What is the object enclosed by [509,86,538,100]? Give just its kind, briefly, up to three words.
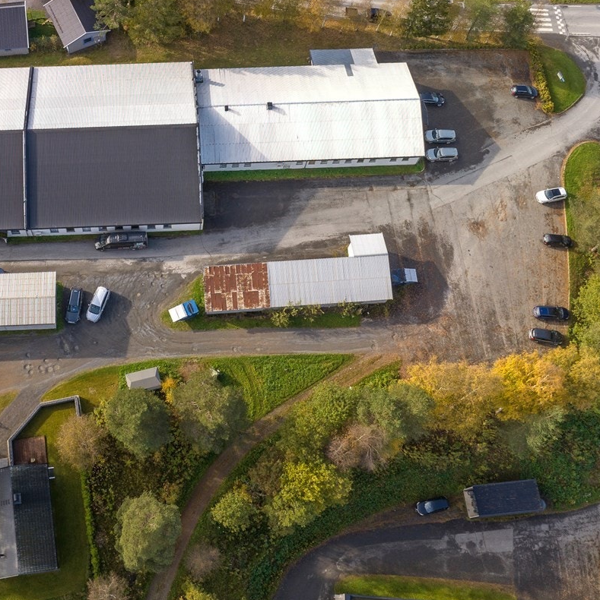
car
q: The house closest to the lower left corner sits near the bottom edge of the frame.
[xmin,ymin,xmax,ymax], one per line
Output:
[0,465,58,580]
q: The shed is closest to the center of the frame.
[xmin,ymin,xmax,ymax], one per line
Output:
[203,232,393,316]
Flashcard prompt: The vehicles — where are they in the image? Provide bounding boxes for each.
[423,130,457,145]
[168,301,200,323]
[539,233,573,251]
[419,93,448,109]
[390,269,421,288]
[509,86,538,100]
[532,187,569,206]
[95,230,146,253]
[64,288,82,323]
[526,328,564,347]
[365,7,394,24]
[87,286,109,323]
[531,305,569,322]
[424,147,459,164]
[411,494,454,517]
